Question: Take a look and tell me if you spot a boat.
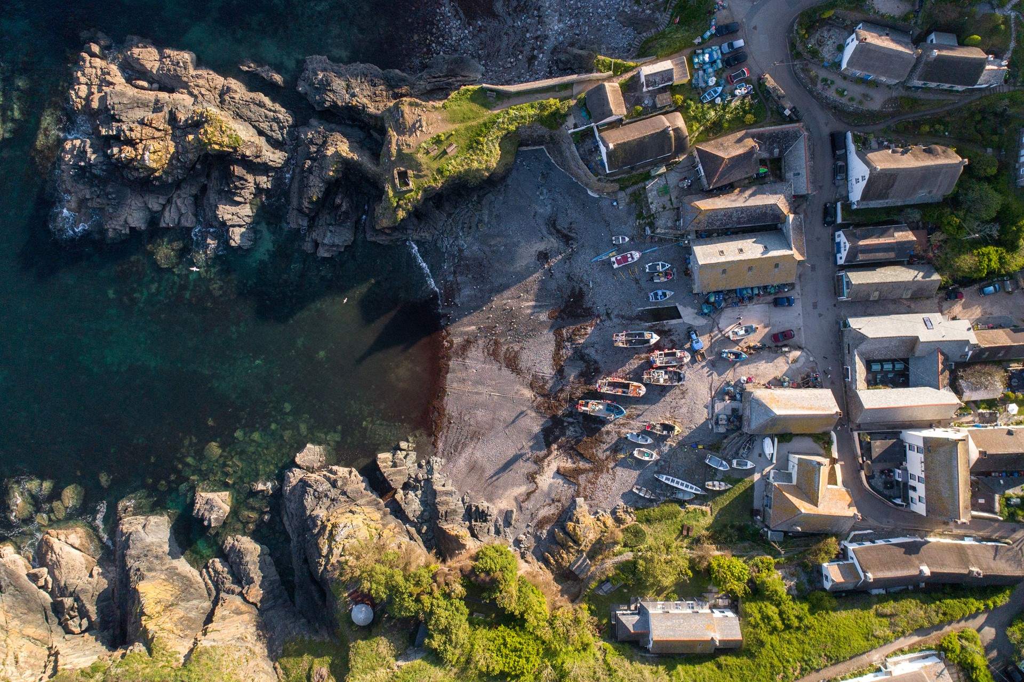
Yes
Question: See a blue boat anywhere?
Yes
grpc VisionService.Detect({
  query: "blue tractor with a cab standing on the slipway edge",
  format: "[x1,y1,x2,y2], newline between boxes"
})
[686,327,707,350]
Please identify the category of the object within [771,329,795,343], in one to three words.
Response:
car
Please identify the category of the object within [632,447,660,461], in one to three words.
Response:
boat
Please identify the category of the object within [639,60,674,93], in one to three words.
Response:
shed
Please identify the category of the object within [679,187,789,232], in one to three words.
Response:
house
